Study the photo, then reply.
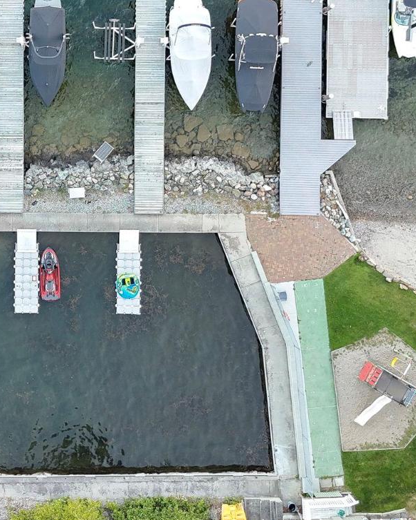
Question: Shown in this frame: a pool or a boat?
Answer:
boat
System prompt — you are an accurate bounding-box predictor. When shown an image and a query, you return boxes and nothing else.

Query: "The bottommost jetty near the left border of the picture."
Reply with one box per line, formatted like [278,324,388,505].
[12,230,42,314]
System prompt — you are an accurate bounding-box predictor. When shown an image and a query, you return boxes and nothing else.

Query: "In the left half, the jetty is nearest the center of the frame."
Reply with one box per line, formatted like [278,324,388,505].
[115,230,144,316]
